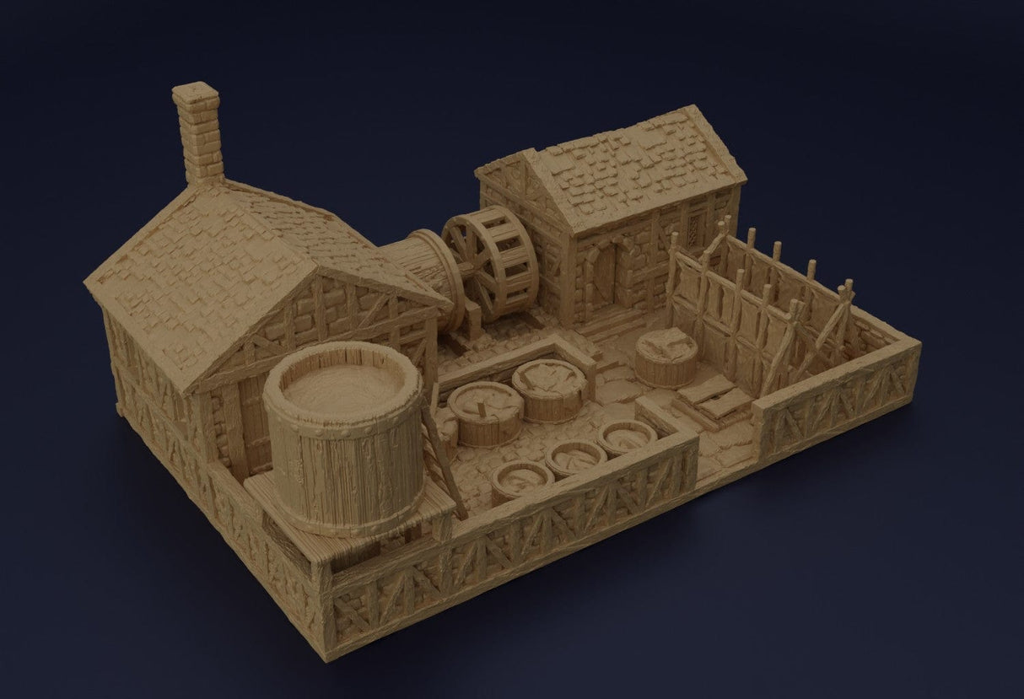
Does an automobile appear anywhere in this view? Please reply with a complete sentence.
No, no automobile can be seen from above.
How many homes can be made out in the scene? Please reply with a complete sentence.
There are 2 homes in the image.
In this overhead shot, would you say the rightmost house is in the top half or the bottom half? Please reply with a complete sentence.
It is in the top half that the rightmost house appears.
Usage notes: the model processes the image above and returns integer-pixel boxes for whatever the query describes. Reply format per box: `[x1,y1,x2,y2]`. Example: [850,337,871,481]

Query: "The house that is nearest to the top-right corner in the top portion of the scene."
[477,104,745,323]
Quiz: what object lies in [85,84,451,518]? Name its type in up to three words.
house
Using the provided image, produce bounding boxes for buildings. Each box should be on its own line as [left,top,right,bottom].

[477,104,745,323]
[85,84,451,518]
